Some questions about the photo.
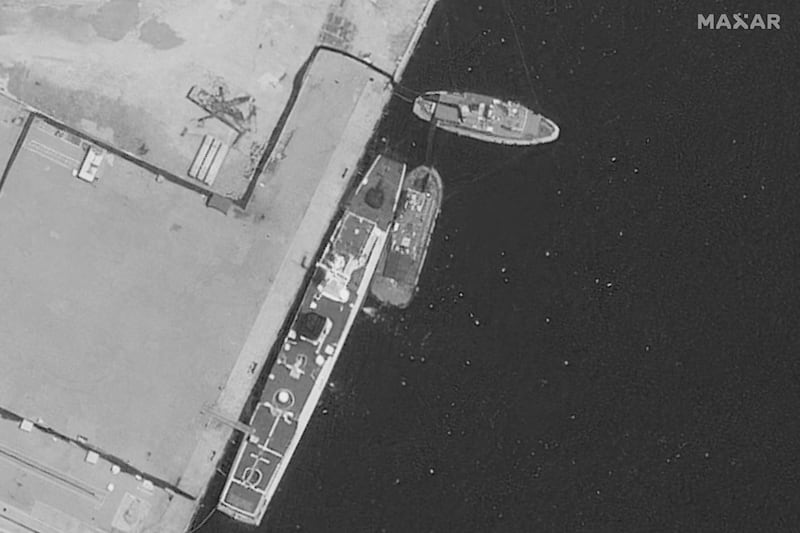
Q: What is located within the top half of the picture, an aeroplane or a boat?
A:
boat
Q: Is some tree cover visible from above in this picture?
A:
No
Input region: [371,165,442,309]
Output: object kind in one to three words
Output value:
boat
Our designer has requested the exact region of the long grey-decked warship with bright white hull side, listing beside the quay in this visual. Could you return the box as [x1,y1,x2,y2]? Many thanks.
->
[217,155,407,524]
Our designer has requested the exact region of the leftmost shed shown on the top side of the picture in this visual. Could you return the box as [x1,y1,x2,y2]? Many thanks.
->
[78,145,106,182]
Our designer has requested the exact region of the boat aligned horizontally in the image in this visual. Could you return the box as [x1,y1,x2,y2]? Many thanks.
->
[413,91,560,145]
